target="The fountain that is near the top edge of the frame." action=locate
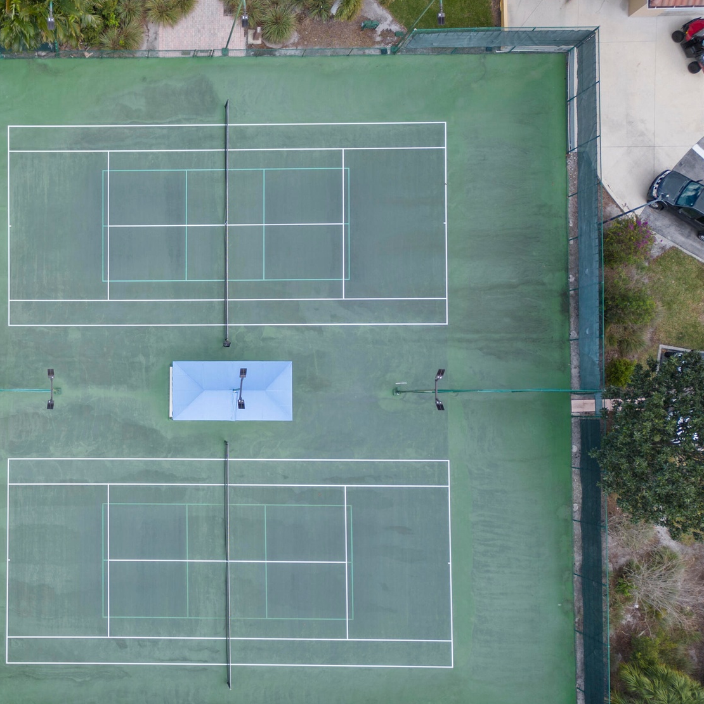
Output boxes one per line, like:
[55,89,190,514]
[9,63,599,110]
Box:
[249,27,263,46]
